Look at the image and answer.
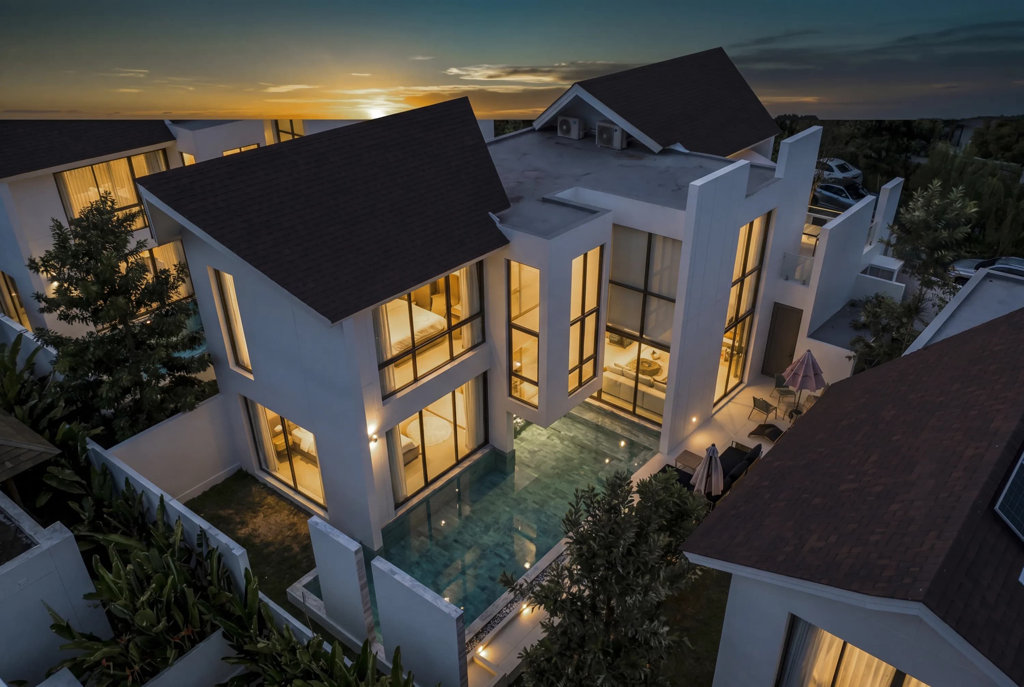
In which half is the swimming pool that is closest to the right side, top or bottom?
bottom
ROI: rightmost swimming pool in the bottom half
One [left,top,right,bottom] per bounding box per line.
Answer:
[287,396,663,687]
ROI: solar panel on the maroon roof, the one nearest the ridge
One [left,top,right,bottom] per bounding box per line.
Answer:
[994,446,1024,546]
